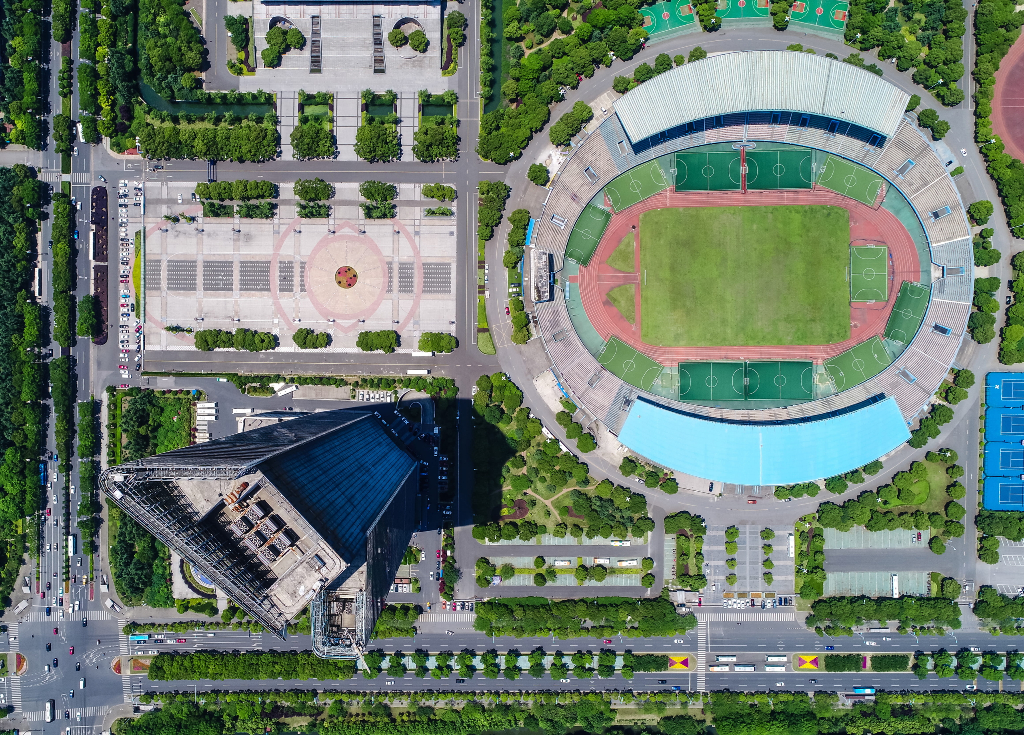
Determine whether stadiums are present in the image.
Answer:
Yes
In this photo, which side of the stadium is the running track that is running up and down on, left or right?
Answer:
right of it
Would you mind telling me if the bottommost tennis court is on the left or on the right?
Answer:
right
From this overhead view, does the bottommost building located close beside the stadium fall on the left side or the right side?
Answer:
left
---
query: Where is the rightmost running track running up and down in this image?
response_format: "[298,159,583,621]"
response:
[991,35,1024,157]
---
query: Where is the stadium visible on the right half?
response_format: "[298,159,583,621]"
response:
[522,49,975,487]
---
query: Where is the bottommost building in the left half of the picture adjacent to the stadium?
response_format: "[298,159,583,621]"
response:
[98,408,417,661]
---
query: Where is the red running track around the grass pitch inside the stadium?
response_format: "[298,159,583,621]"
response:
[569,184,920,359]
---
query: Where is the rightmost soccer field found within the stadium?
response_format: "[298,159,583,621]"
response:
[640,205,850,346]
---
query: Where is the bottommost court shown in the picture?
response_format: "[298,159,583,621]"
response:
[983,477,1024,511]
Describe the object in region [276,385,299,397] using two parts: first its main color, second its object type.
white vehicle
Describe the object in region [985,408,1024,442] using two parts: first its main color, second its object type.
blue tennis court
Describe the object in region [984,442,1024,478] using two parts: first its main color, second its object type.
blue tennis court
